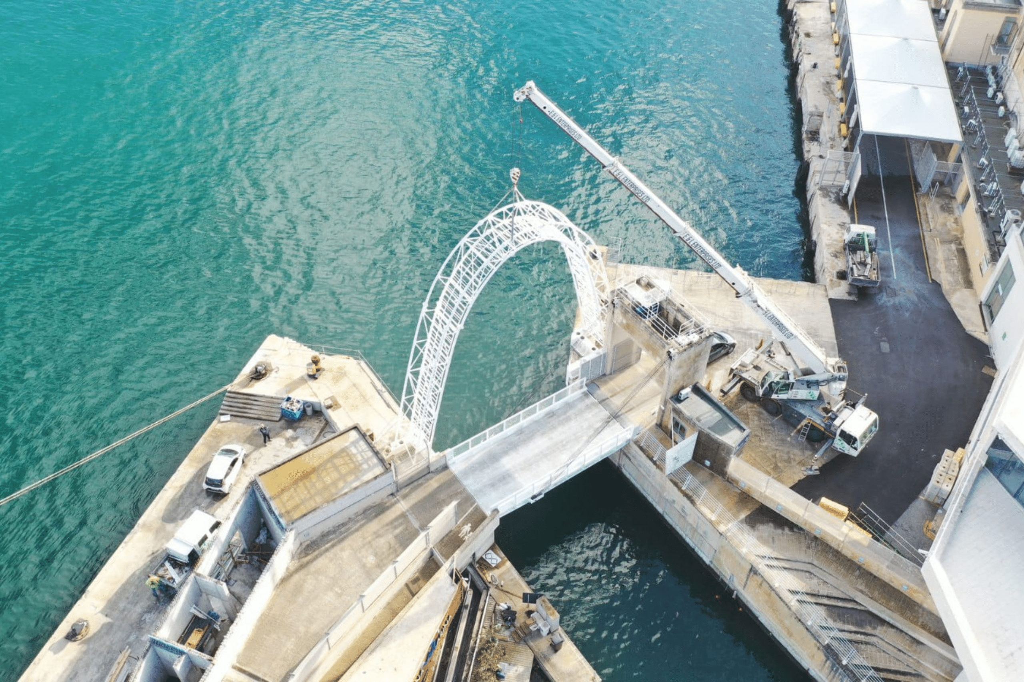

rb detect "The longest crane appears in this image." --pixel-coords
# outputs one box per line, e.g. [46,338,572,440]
[494,83,884,478]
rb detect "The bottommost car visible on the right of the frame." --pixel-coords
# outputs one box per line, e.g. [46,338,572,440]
[705,334,741,374]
